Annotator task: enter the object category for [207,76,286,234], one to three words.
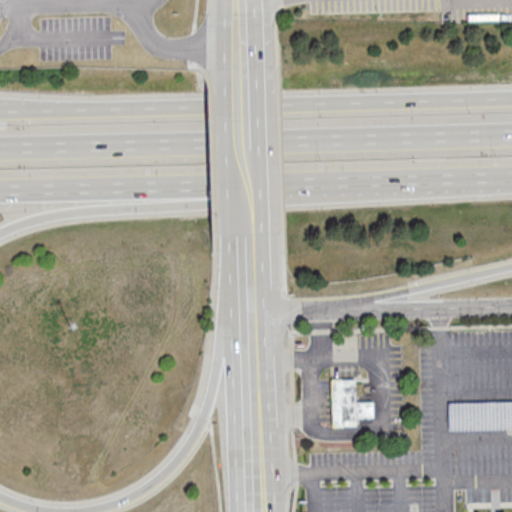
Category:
overpass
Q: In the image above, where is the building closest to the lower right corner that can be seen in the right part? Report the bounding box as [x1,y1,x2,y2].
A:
[448,402,512,436]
